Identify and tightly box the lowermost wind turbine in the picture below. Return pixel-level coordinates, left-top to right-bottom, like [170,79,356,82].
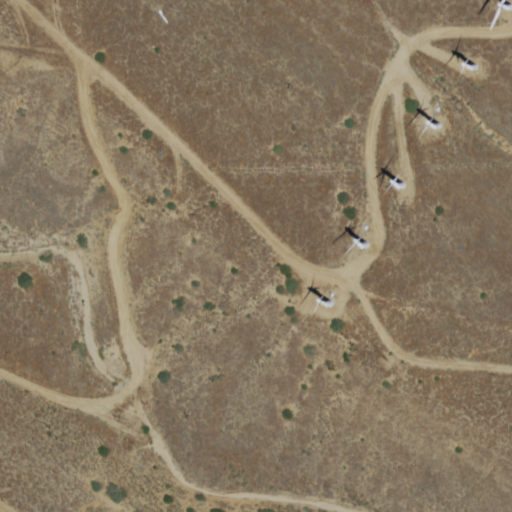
[308,292,336,320]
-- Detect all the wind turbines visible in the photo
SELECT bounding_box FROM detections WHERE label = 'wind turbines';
[308,292,336,320]
[417,112,445,141]
[454,55,480,83]
[491,0,512,28]
[382,164,409,191]
[342,232,372,258]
